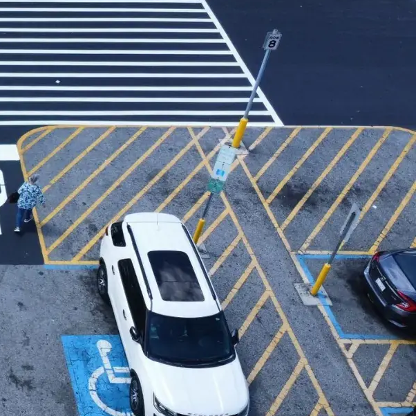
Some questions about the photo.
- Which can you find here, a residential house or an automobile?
automobile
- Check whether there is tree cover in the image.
No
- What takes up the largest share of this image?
paved ground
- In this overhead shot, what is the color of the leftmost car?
white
